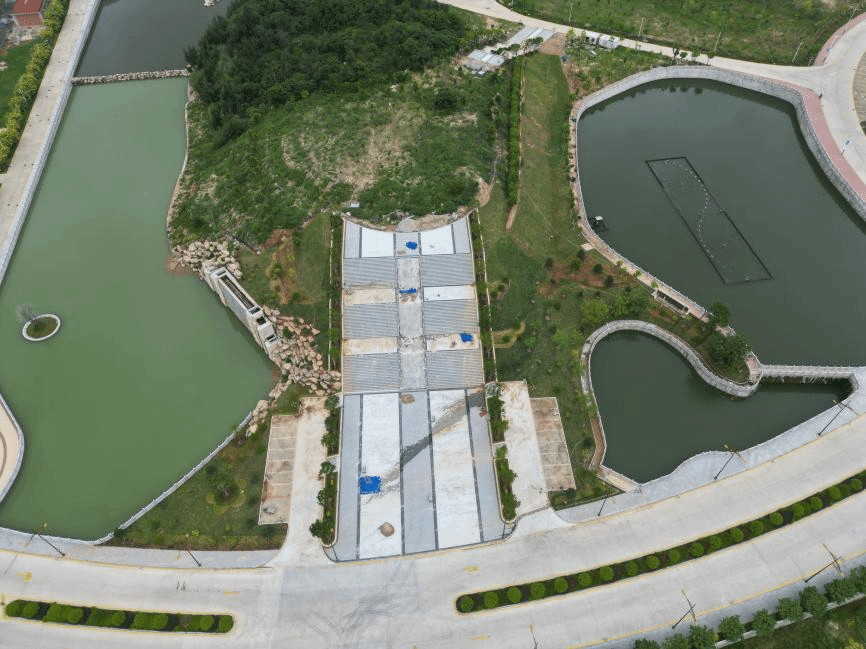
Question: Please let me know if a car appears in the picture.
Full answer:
No, no car can be seen from above.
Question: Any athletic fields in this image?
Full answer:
No, no athletic field can be seen from above.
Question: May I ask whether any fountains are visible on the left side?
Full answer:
No, there's no fountain to be seen on the left side.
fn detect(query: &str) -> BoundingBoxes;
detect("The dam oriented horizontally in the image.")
[69,69,189,84]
